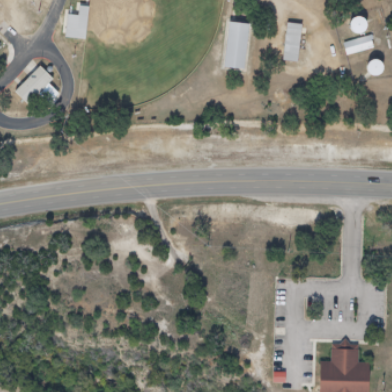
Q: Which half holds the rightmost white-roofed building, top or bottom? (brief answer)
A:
top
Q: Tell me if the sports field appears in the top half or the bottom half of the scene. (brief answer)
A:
top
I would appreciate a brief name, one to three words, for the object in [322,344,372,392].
building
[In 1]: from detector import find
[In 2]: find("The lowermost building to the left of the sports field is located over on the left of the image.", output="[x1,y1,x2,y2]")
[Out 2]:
[16,66,54,103]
